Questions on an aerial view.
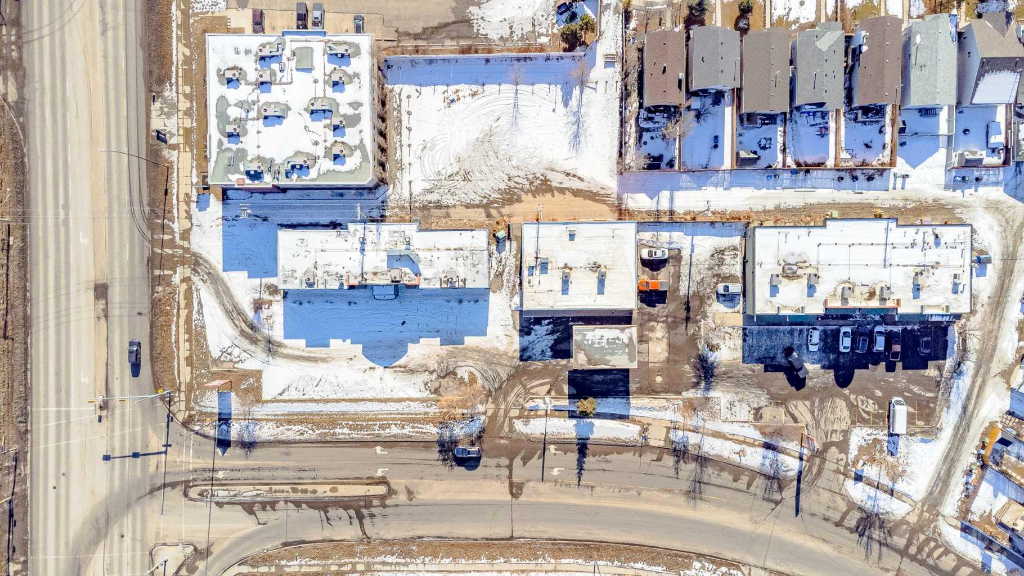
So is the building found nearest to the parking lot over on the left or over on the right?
left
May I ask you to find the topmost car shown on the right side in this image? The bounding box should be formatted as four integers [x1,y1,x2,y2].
[639,247,668,259]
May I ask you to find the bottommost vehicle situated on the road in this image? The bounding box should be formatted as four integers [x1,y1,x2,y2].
[455,445,482,459]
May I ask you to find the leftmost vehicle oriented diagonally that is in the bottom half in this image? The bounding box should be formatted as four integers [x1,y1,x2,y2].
[783,347,809,381]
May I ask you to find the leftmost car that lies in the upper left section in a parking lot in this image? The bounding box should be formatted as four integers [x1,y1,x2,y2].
[252,8,267,33]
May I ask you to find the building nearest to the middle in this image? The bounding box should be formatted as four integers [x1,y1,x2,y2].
[522,221,637,317]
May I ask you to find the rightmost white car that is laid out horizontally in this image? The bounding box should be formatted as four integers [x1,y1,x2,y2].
[716,282,744,295]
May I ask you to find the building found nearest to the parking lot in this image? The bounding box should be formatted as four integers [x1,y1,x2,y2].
[206,29,383,197]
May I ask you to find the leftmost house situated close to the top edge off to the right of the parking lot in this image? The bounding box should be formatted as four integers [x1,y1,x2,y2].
[641,28,686,118]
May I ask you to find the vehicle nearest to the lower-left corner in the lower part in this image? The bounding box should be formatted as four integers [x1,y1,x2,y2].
[126,338,142,366]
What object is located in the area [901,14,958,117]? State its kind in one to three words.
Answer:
house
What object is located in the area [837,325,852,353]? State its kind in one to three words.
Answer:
car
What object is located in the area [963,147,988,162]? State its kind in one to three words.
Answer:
shed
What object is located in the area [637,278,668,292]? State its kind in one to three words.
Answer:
vehicle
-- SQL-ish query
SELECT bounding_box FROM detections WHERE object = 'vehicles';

[806,326,821,350]
[637,278,668,292]
[716,282,744,295]
[783,347,809,381]
[837,325,852,353]
[884,392,905,433]
[252,8,267,33]
[639,247,668,259]
[455,445,482,459]
[126,338,142,366]
[887,328,903,360]
[311,0,325,29]
[352,12,365,33]
[871,325,886,353]
[854,327,868,354]
[295,0,309,29]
